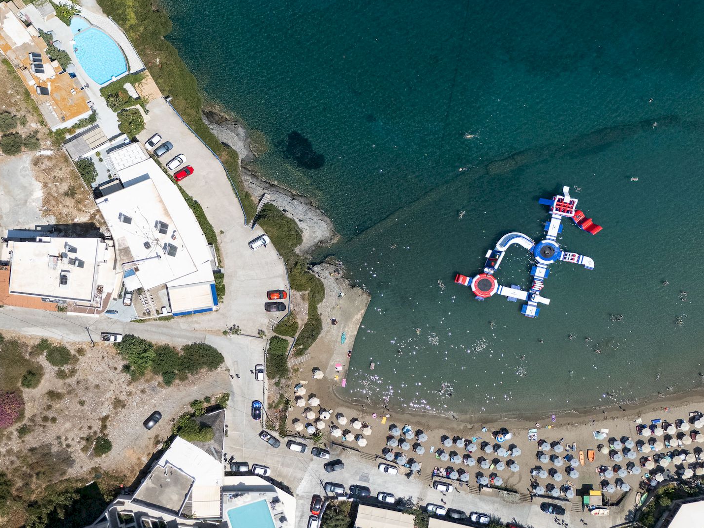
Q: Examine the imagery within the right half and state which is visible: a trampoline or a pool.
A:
trampoline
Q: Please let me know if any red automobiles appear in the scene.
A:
Yes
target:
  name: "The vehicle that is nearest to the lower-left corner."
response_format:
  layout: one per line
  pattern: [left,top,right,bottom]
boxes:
[141,410,163,431]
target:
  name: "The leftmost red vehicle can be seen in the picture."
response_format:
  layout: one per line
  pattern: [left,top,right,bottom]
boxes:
[173,165,194,181]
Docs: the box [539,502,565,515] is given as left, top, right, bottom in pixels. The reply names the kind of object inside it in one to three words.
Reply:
vehicle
